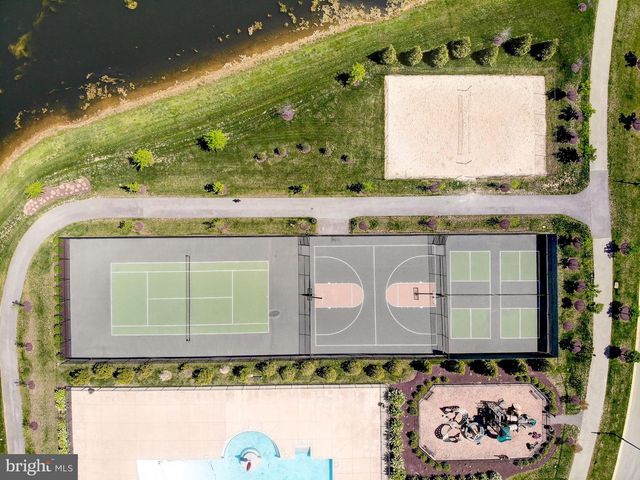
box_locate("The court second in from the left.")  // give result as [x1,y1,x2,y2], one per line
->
[310,235,441,356]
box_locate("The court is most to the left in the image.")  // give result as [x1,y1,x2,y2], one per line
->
[71,236,311,359]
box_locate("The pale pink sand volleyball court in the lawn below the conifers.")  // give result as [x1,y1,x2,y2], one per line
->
[385,75,547,179]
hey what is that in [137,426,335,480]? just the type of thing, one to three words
swimming pool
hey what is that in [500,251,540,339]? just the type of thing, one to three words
sports court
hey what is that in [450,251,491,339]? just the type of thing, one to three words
sports court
